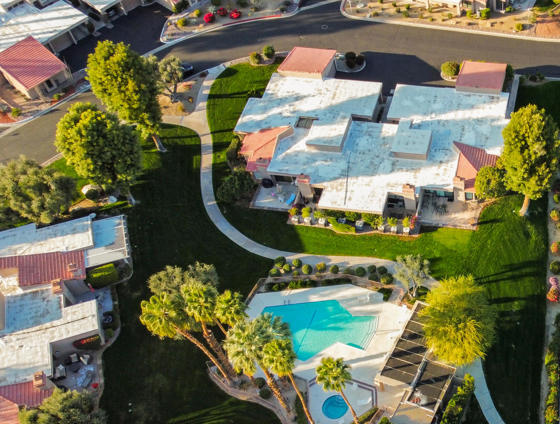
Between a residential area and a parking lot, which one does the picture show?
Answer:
residential area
